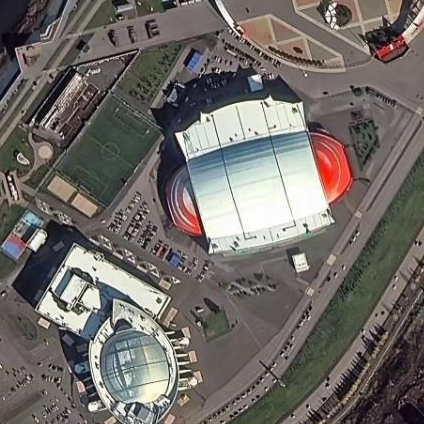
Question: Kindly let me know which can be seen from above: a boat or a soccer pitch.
soccer pitch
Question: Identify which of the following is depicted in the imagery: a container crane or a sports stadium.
sports stadium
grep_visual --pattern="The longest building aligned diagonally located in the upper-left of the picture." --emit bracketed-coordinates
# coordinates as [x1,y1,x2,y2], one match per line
[53,80,106,140]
